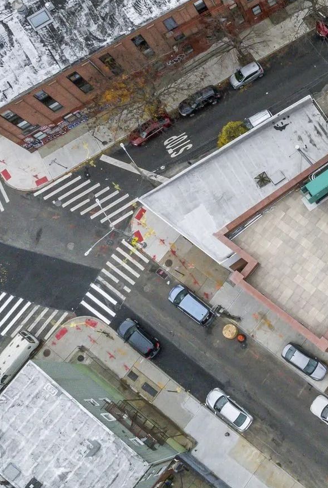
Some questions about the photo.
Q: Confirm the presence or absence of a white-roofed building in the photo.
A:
Yes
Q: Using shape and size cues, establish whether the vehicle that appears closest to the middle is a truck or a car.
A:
car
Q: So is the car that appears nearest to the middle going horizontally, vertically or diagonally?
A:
diagonally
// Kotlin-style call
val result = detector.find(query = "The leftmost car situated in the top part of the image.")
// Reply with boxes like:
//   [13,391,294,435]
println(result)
[126,110,177,150]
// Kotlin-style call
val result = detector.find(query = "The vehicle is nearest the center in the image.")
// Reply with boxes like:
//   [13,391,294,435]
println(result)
[164,281,221,333]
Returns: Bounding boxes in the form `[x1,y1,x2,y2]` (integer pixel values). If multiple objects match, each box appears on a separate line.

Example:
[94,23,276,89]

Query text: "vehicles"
[224,57,271,93]
[0,325,47,395]
[164,281,221,333]
[276,337,328,386]
[126,110,177,150]
[112,315,166,364]
[177,82,226,121]
[305,389,328,427]
[238,101,279,136]
[201,384,258,439]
